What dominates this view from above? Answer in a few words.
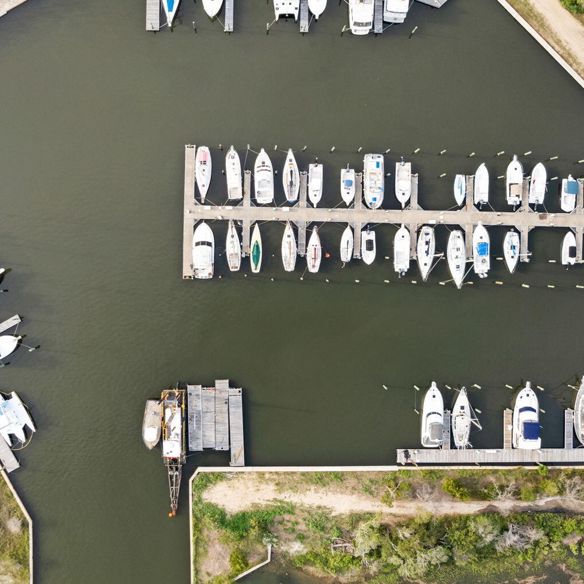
water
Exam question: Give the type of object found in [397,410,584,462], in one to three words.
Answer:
pier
